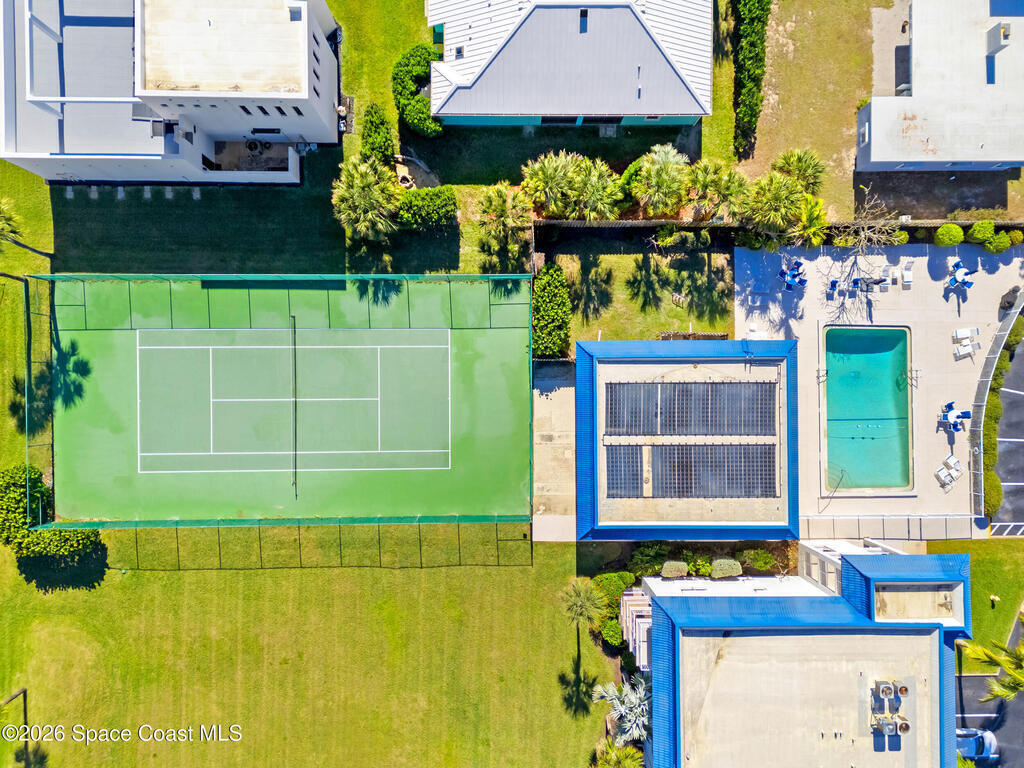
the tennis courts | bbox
[54,280,532,520]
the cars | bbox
[956,729,995,763]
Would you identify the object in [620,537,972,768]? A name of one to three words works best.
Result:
building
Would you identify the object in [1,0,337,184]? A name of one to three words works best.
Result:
house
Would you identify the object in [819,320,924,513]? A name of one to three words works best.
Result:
swimming pool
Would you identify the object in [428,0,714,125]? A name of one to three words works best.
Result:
house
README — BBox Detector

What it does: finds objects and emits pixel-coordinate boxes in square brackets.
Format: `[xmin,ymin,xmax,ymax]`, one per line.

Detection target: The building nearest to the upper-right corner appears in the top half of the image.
[857,0,1024,170]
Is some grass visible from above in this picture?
Yes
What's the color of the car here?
blue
